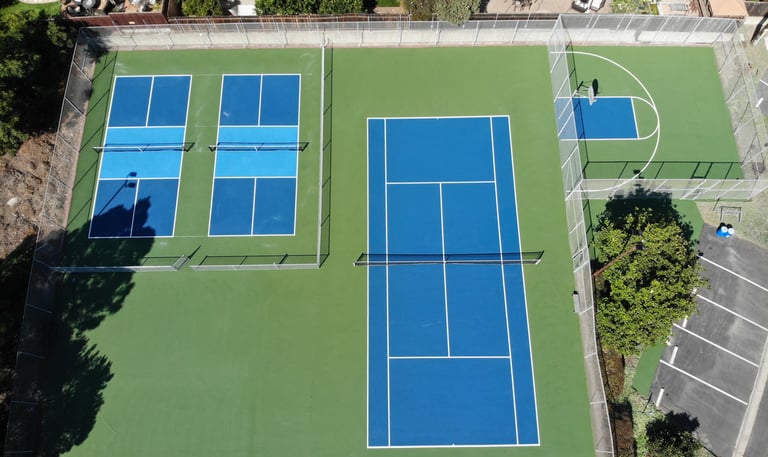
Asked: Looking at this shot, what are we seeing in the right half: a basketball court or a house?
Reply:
basketball court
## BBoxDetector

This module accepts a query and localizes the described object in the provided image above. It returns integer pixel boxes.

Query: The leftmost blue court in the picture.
[88,75,192,238]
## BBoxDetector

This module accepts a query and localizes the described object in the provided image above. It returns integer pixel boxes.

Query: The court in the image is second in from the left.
[208,74,301,236]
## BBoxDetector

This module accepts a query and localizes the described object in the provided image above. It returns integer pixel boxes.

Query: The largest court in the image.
[367,116,540,448]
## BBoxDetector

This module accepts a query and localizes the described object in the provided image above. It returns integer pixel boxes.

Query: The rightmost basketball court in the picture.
[549,51,659,191]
